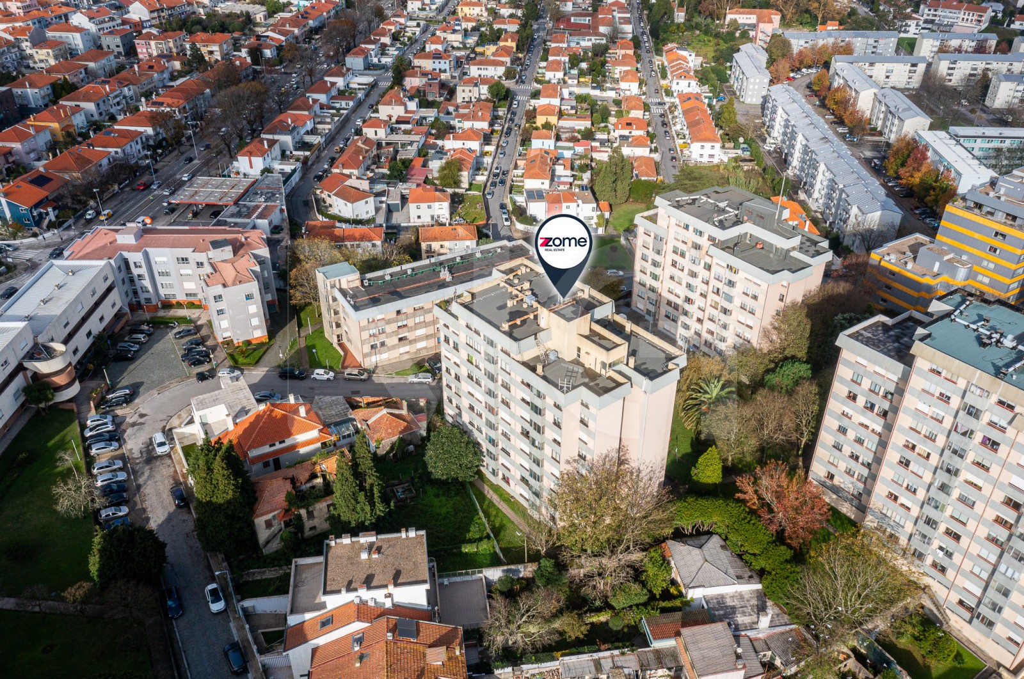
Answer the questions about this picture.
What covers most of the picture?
buildings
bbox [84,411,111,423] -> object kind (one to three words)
vehicle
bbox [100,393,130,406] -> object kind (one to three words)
vehicle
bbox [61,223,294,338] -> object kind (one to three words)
building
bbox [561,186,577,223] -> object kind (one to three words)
house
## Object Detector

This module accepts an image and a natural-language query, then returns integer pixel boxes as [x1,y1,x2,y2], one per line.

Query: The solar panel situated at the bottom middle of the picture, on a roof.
[397,621,418,638]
